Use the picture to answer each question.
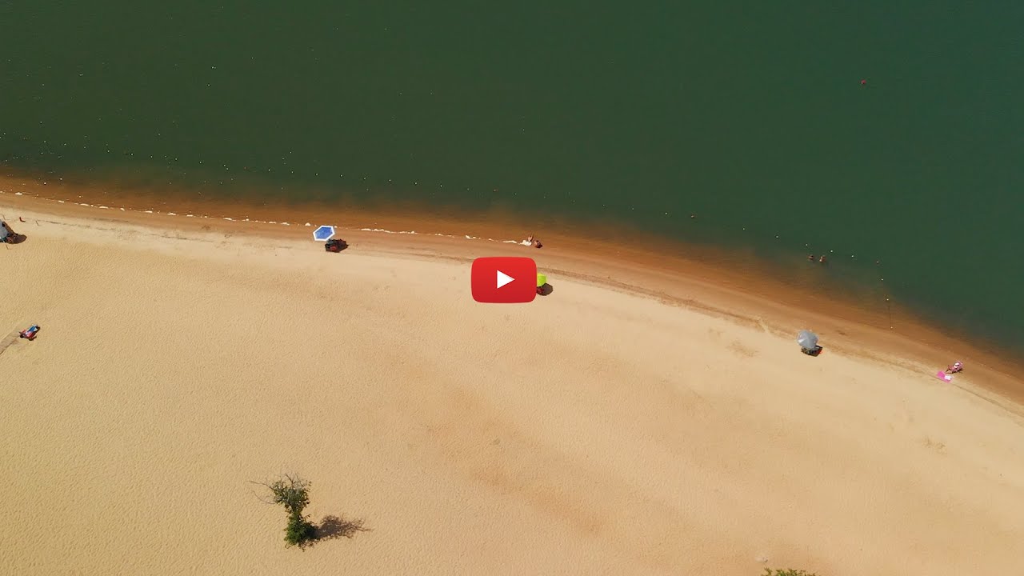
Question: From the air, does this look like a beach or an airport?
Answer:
beach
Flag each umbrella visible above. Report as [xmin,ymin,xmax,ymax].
[796,330,818,348]
[314,225,335,242]
[0,219,11,245]
[530,274,545,287]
